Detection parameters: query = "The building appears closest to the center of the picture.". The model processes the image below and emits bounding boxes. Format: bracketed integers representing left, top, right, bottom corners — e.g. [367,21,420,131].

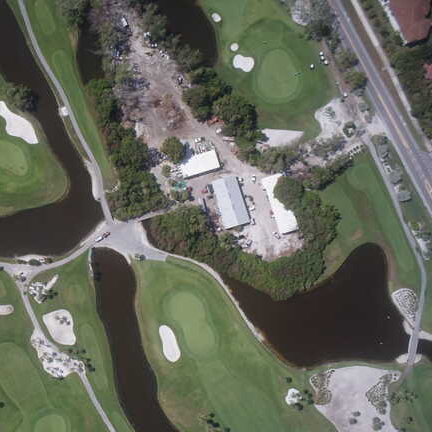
[212,176,250,229]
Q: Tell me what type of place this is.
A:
golf course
